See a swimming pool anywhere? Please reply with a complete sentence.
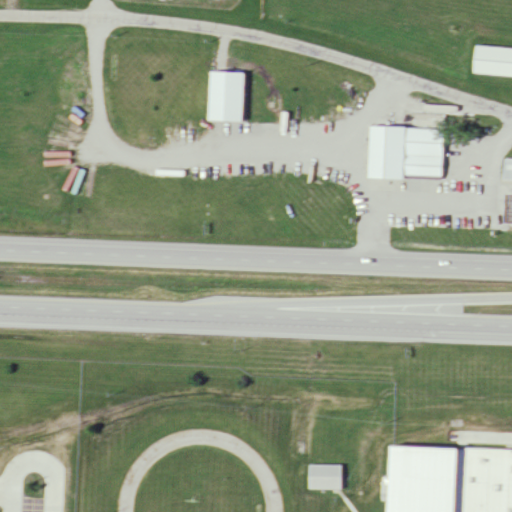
No, the photo shows no swimming pool.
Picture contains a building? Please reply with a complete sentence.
Yes, there is a building in the image.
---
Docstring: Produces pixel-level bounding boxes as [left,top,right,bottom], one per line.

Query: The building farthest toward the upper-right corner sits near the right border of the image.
[472,44,512,77]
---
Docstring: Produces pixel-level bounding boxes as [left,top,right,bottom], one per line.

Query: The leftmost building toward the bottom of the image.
[308,464,343,492]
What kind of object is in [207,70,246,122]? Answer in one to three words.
shed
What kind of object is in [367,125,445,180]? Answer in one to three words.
building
